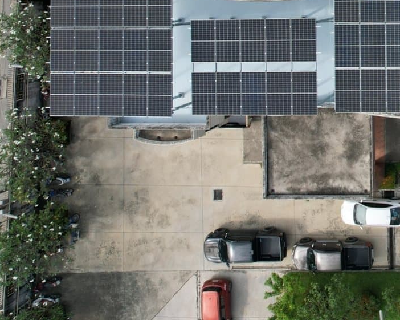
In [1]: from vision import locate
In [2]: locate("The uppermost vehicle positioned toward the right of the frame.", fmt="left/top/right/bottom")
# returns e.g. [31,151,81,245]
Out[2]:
[342,198,400,235]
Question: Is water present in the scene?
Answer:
No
